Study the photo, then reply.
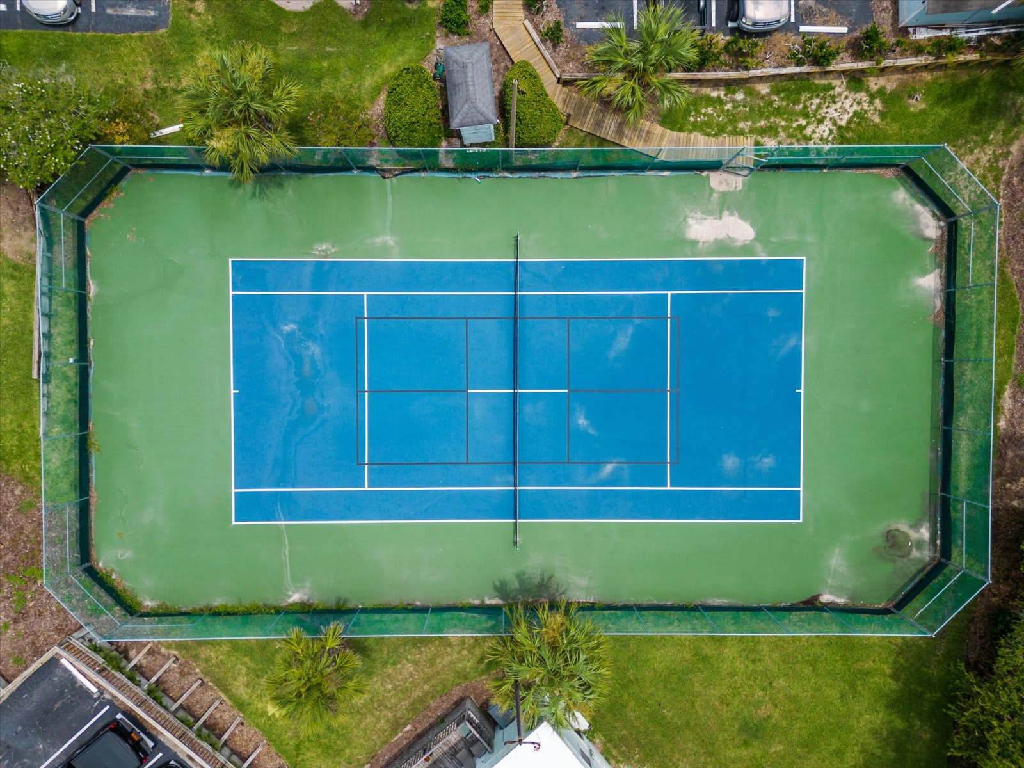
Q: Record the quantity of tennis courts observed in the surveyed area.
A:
1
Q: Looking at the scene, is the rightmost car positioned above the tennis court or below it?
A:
above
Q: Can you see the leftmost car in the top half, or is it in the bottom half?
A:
top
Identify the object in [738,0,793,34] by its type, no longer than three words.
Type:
car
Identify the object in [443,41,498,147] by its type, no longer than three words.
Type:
shed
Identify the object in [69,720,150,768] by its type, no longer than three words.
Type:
car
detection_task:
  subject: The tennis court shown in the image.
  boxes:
[83,168,949,616]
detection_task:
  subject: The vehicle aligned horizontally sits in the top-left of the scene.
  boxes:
[28,0,85,27]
